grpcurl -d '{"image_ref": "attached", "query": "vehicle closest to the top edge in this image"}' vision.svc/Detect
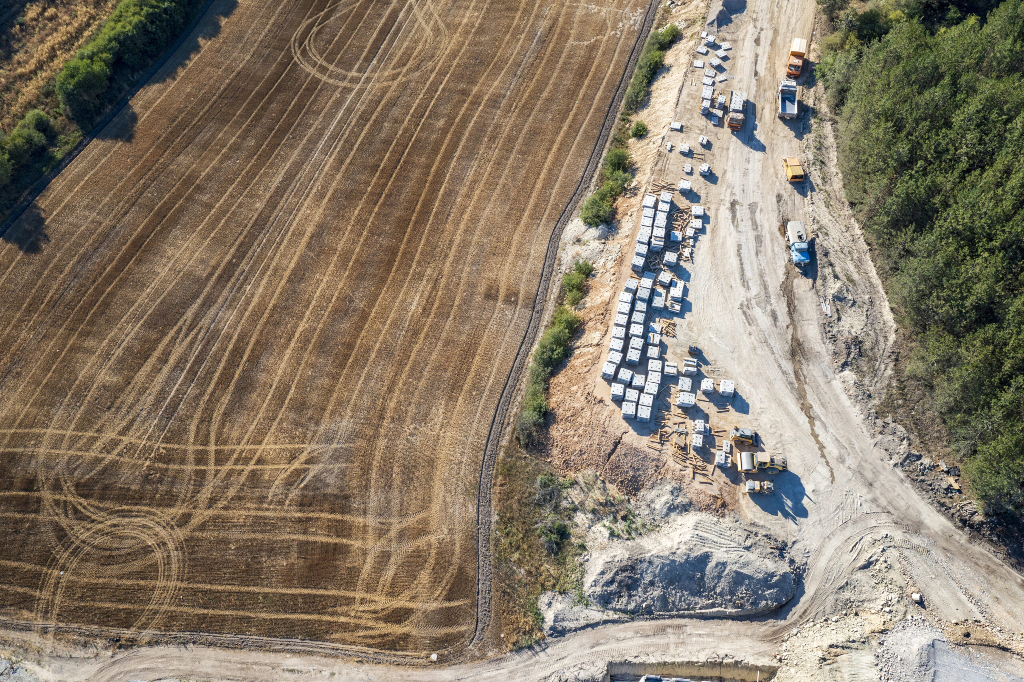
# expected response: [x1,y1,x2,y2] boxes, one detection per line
[785,38,806,77]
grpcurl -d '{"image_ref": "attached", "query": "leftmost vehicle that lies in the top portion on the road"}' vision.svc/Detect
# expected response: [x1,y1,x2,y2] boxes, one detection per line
[726,89,751,131]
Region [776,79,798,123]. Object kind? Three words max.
truck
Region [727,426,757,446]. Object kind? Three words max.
work vehicle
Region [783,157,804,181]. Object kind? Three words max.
truck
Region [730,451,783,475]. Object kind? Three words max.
work vehicle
